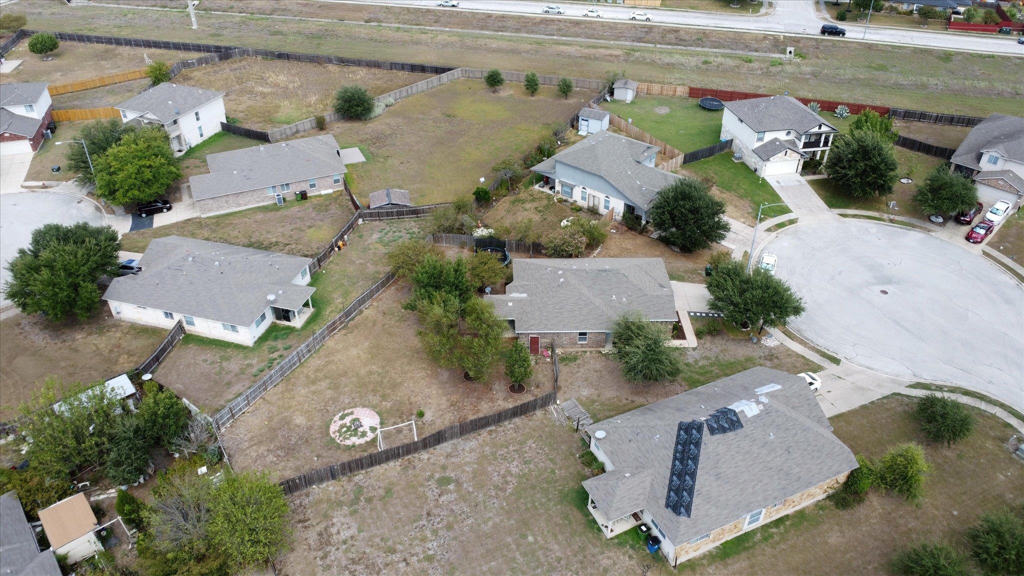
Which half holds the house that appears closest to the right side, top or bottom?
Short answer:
top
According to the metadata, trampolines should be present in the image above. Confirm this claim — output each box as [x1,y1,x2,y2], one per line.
[699,99,723,113]
[473,233,511,265]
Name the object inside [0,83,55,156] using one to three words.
house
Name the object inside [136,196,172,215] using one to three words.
car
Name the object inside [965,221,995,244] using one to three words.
car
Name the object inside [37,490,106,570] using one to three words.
shed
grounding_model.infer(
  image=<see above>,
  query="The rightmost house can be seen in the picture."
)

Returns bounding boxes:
[950,113,1024,211]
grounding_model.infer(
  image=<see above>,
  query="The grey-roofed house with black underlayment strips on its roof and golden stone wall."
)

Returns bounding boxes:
[577,367,852,563]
